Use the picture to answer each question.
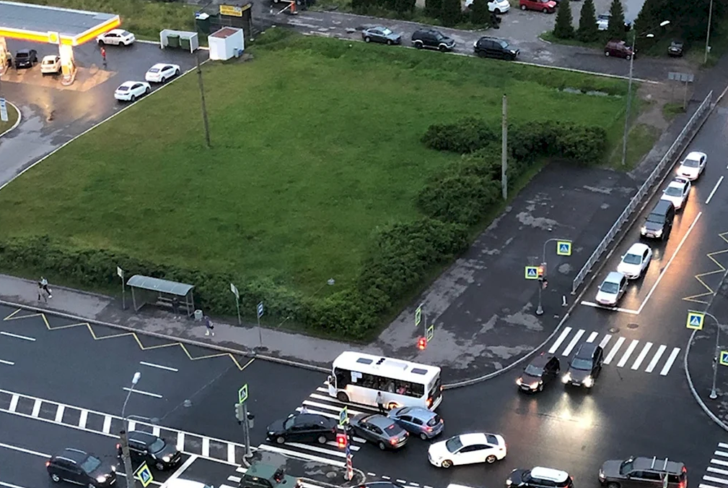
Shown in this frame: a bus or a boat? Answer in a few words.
bus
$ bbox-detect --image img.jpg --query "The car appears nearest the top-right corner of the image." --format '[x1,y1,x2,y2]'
[667,41,687,59]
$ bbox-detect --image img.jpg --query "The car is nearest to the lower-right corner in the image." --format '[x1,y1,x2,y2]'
[601,452,689,488]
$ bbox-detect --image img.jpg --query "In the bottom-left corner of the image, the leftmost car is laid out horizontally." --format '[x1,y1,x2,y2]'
[43,443,119,488]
